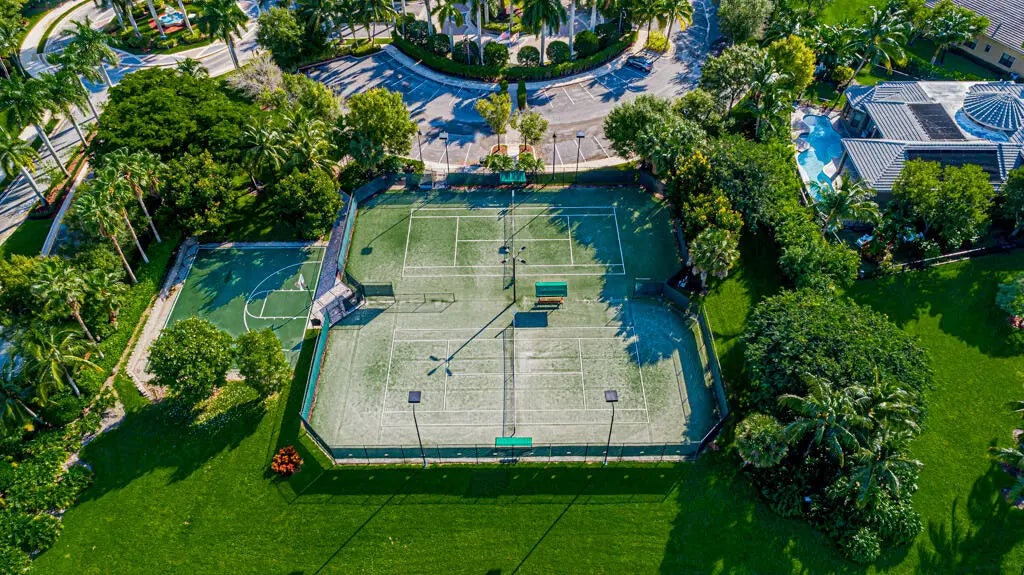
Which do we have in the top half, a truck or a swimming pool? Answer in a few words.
swimming pool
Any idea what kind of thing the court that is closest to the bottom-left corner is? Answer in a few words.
basketball court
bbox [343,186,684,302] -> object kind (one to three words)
tennis court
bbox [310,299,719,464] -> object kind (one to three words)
tennis court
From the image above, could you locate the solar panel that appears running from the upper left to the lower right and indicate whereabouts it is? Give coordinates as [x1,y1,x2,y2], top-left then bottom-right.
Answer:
[899,101,964,138]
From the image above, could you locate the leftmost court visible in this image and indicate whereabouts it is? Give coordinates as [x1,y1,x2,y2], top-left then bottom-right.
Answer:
[164,246,325,357]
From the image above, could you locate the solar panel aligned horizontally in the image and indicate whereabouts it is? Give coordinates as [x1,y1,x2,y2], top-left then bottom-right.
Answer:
[915,150,1010,183]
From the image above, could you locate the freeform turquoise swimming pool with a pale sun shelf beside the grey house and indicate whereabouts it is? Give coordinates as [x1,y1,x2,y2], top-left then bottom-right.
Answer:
[796,114,848,205]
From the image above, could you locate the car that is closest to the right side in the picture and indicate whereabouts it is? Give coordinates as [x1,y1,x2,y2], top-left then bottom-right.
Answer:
[624,53,656,71]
